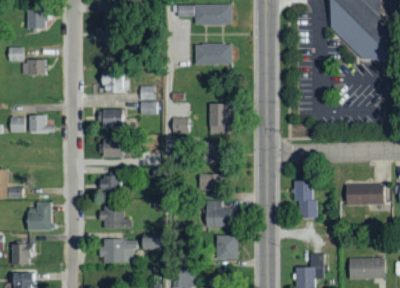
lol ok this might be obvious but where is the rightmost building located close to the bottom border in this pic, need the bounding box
[350,258,386,282]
